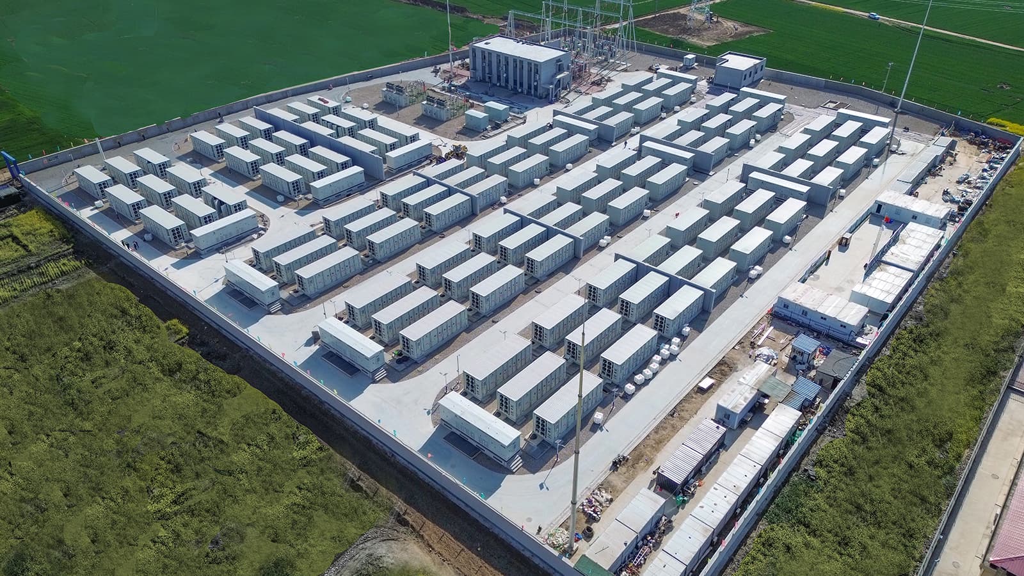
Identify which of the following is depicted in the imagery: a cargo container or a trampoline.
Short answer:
cargo container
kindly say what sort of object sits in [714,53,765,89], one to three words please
building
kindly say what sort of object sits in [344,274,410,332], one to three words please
shipping container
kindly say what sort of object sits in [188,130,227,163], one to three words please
shipping container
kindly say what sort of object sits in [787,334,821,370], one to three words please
shed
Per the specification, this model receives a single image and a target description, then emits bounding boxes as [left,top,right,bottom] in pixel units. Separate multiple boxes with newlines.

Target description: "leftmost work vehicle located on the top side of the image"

[433,138,464,163]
